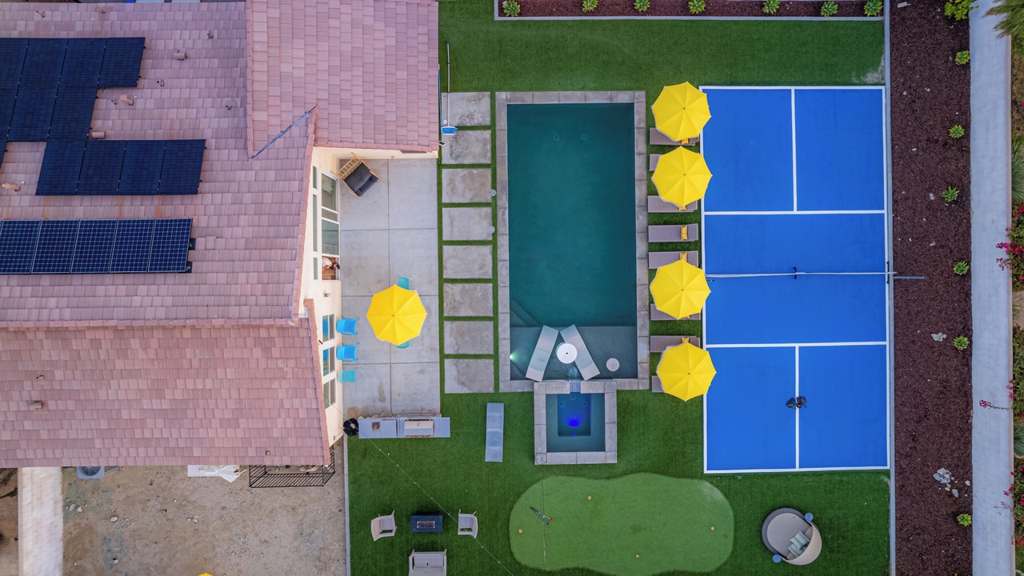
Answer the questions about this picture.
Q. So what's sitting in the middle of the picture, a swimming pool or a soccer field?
swimming pool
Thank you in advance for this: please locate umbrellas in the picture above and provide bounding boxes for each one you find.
[649,259,712,322]
[650,82,712,144]
[367,284,430,346]
[652,146,714,208]
[653,341,716,403]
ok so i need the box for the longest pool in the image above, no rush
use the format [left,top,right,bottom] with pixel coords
[496,91,649,392]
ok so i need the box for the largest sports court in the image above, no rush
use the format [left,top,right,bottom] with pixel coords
[700,86,890,473]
